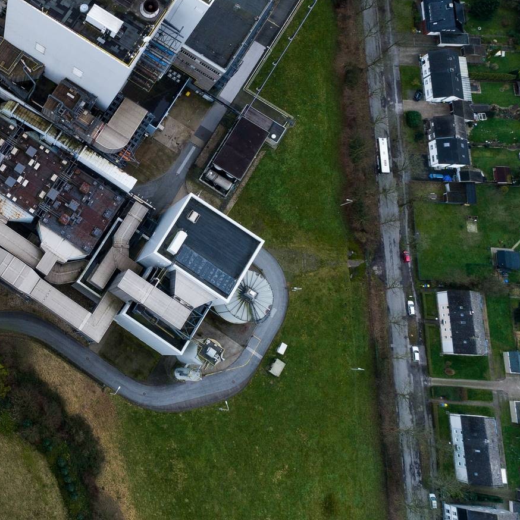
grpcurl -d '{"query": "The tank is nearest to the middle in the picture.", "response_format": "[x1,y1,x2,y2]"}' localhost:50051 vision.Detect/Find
[216,269,276,324]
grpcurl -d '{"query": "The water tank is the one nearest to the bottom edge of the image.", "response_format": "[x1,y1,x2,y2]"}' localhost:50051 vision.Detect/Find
[171,364,199,384]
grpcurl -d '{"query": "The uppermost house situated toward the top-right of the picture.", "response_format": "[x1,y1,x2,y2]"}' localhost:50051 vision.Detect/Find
[415,0,464,38]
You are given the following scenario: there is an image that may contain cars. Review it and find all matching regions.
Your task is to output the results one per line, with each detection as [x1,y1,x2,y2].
[403,250,412,263]
[414,88,423,102]
[407,300,416,316]
[430,493,440,510]
[412,346,422,363]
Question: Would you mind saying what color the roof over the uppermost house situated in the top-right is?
black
